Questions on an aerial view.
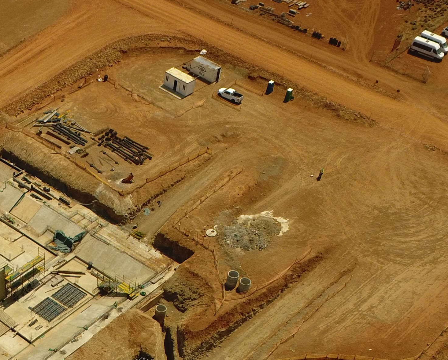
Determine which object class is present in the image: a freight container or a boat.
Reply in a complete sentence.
I can see a freight container in this picture.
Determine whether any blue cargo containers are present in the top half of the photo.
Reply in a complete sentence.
No, looking in the top half of the photo, there is no blue cargo container.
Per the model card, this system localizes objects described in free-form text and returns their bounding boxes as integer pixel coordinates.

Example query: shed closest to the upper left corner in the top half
[157,68,196,100]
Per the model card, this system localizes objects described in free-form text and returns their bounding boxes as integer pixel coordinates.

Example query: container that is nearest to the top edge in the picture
[189,55,227,83]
